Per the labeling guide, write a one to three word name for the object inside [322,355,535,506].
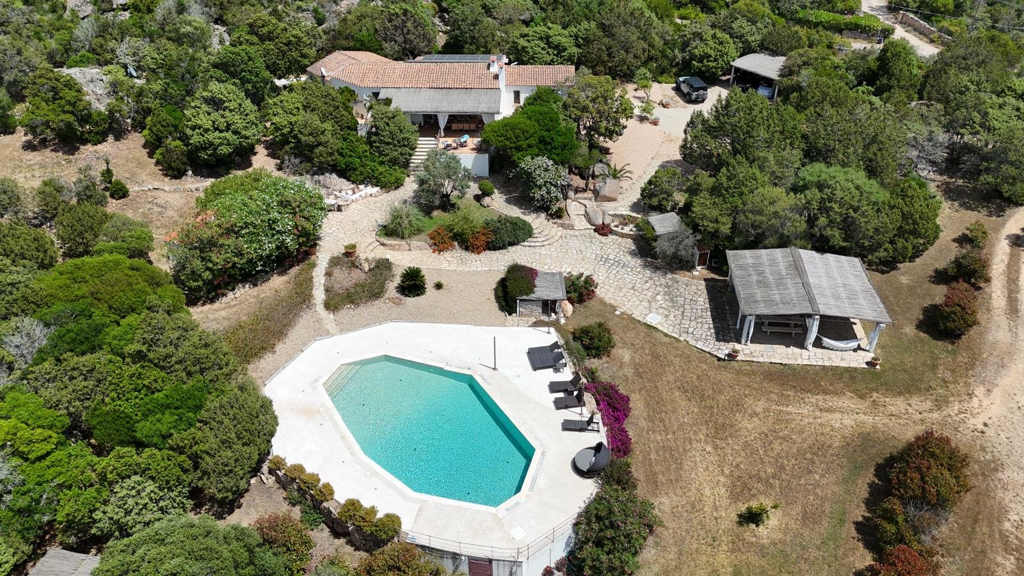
swimming pool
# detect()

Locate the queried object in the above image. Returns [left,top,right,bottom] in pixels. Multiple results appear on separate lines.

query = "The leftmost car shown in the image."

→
[673,72,710,98]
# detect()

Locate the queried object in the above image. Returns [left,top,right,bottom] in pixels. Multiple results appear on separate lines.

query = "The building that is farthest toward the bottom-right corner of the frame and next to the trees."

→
[715,244,892,381]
